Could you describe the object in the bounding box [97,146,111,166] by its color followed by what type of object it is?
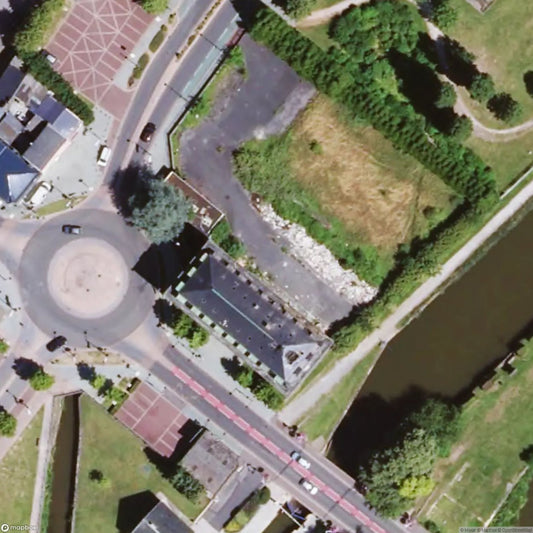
white vehicle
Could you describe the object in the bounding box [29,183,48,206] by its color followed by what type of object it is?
white vehicle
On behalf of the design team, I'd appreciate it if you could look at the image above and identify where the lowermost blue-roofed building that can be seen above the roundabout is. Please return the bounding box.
[0,138,39,204]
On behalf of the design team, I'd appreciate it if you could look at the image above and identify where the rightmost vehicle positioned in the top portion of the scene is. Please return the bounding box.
[141,121,155,139]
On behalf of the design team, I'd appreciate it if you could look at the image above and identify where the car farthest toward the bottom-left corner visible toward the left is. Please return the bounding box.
[47,336,66,350]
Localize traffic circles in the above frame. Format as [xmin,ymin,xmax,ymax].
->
[19,210,156,347]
